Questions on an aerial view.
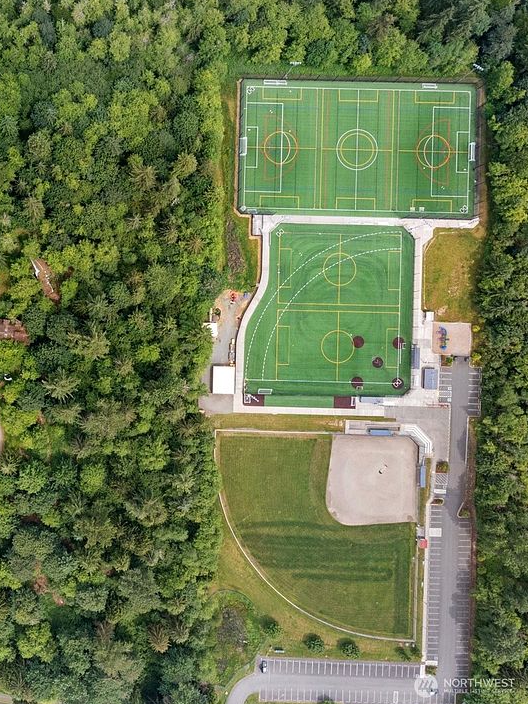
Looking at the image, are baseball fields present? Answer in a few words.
Yes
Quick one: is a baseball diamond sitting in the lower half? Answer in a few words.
Yes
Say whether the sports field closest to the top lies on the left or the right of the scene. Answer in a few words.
right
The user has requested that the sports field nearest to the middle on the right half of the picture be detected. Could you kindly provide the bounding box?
[243,224,415,409]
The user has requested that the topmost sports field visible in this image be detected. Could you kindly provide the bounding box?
[240,80,475,217]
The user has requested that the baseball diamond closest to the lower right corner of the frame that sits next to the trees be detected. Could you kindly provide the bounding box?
[215,431,417,640]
